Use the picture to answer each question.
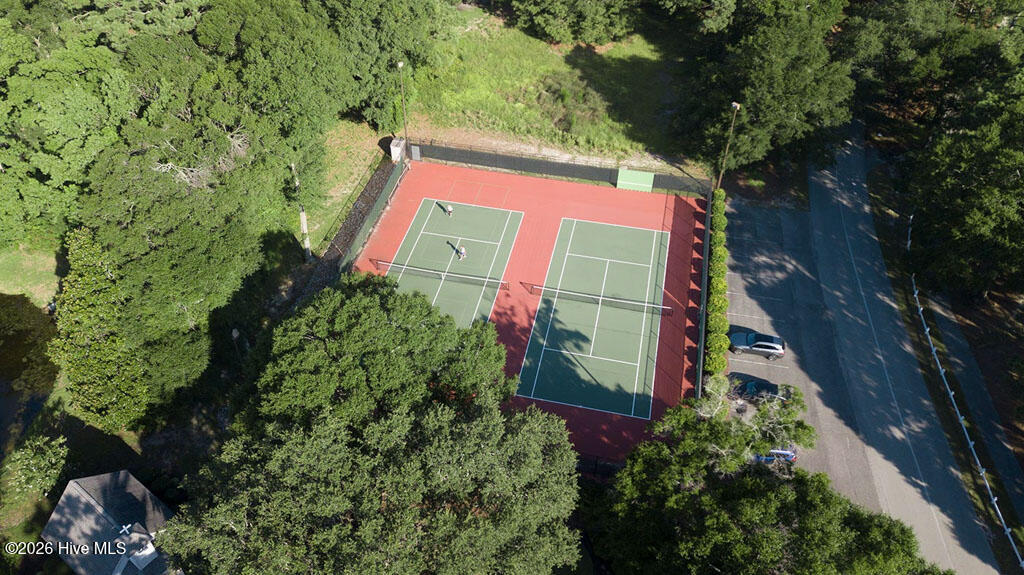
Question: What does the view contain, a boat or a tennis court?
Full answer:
It is a tennis court that can be seen here.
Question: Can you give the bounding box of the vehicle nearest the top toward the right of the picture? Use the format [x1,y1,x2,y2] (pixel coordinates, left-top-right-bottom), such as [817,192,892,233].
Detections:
[728,330,786,360]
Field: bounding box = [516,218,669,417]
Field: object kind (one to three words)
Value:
tennis court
